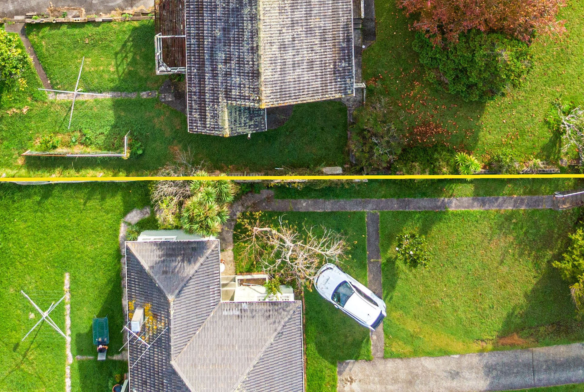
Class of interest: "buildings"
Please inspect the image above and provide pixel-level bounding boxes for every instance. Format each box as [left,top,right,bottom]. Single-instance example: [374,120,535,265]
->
[185,0,355,137]
[124,232,305,392]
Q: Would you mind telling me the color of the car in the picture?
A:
white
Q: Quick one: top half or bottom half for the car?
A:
bottom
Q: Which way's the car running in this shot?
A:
on a diagonal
